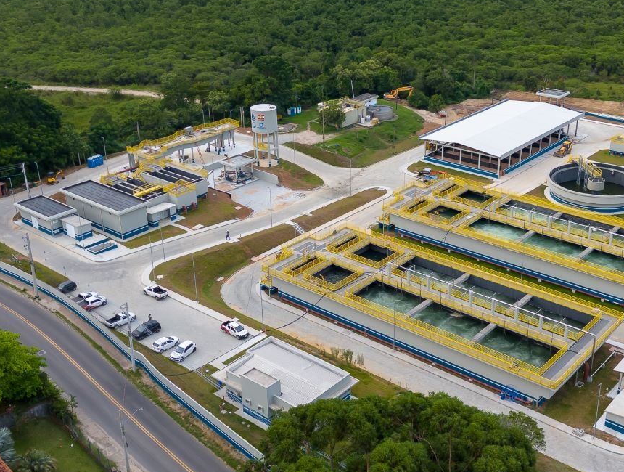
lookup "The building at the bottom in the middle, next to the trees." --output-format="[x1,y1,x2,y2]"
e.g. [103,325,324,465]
[207,334,360,424]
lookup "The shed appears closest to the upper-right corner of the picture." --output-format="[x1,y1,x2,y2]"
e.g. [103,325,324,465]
[418,100,589,178]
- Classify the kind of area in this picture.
industrial area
